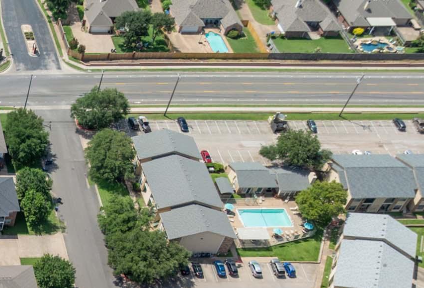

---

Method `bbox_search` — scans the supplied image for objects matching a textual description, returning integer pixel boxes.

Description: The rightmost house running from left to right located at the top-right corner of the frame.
[332,0,416,35]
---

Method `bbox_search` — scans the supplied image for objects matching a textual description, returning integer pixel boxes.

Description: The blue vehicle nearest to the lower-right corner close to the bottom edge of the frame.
[283,261,296,279]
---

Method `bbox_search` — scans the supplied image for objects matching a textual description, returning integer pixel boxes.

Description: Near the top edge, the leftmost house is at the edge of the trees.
[85,0,146,34]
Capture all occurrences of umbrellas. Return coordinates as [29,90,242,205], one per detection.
[303,223,315,230]
[271,227,283,236]
[224,203,235,211]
